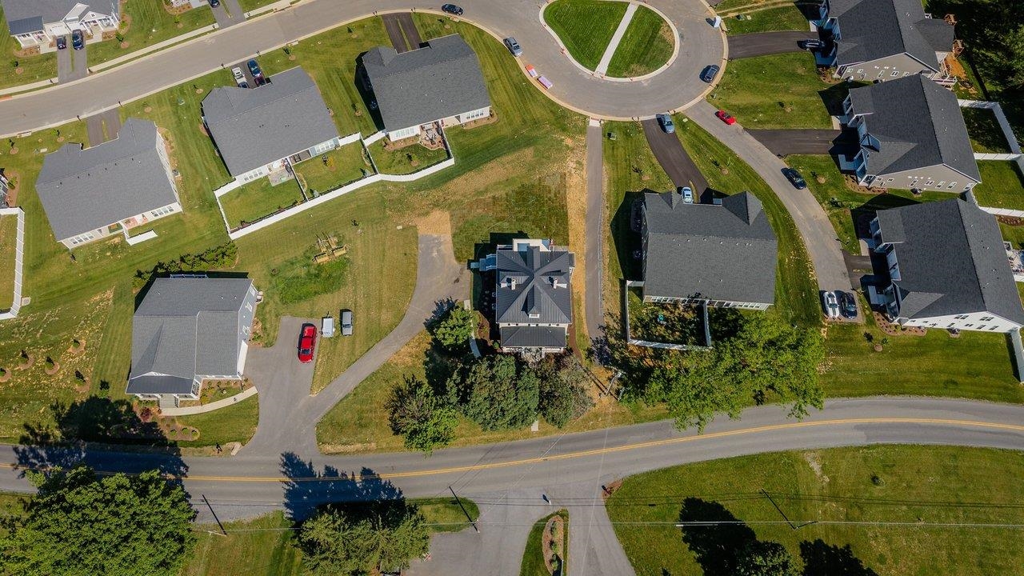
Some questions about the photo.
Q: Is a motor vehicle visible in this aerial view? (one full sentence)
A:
Yes, the picture does show a motor vehicle.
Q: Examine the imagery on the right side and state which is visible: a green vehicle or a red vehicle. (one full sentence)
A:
The one visible on the right side is a red vehicle.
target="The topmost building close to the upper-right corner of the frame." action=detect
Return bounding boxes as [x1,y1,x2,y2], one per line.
[808,0,965,82]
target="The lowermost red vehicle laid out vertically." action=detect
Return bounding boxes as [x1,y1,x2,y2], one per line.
[299,325,317,361]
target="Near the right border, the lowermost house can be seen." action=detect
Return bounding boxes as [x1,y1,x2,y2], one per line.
[856,199,1024,333]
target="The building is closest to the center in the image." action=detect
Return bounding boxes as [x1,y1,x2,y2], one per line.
[459,238,573,364]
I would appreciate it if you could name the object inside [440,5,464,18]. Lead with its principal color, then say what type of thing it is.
black vehicle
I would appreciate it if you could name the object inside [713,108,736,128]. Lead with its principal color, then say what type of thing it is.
red car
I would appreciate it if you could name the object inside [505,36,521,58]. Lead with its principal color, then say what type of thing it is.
gray car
